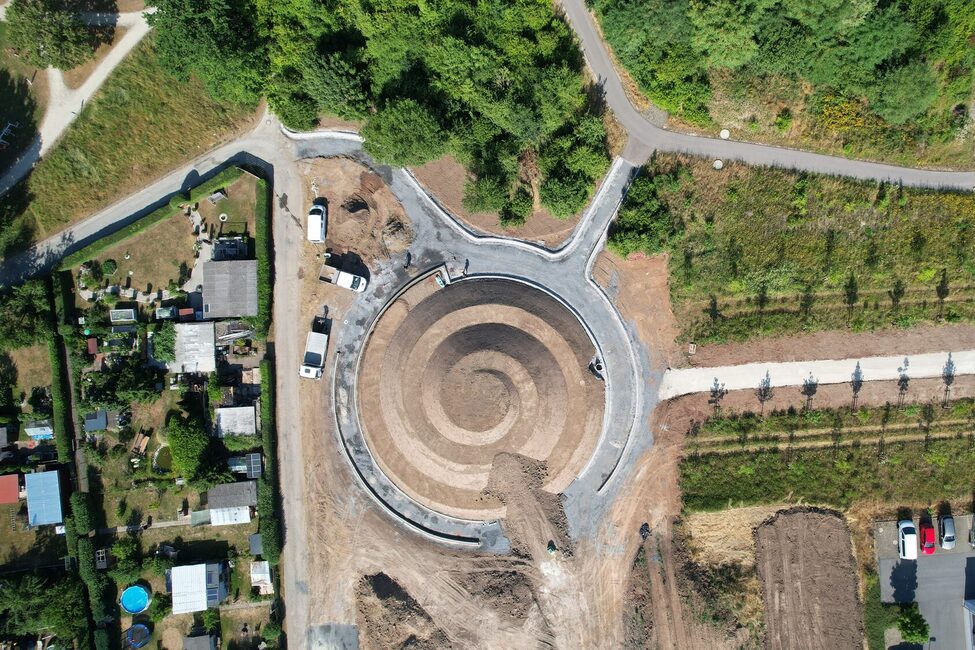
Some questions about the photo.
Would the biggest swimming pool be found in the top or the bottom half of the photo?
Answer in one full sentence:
The biggest swimming pool sits in the bottom half of the picture.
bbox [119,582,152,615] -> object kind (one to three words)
swimming pool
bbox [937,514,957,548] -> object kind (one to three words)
car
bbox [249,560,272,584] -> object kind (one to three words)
shed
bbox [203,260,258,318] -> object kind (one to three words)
house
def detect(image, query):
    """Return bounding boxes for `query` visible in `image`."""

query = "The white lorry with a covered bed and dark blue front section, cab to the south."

[300,327,327,381]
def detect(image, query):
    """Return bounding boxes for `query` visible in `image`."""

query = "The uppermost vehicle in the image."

[308,203,327,243]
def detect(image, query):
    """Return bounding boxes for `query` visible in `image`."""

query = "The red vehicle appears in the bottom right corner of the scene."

[918,524,936,554]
